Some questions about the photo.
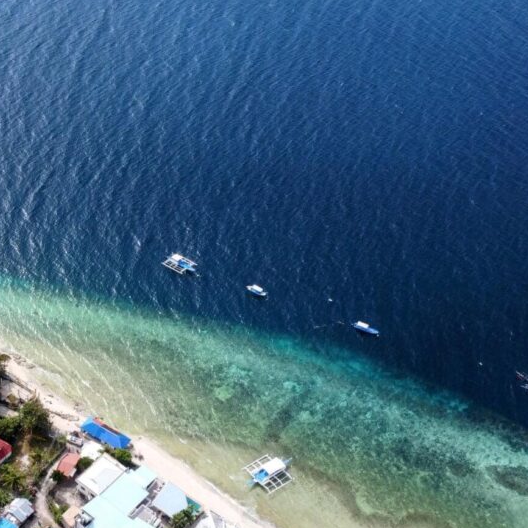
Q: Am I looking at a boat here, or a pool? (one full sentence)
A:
The image shows a boat.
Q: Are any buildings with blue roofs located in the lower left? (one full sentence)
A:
Yes, the scene does show a building with a blue roof in the lower left.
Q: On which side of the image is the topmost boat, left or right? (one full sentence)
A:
The topmost boat sits on the left side.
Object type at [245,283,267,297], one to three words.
boat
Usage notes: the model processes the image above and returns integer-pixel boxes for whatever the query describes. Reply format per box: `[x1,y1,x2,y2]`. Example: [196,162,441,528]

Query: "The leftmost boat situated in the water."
[164,256,198,278]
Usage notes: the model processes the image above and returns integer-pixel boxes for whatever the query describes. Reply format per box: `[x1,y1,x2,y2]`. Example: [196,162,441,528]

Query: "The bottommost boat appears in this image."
[243,452,295,493]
